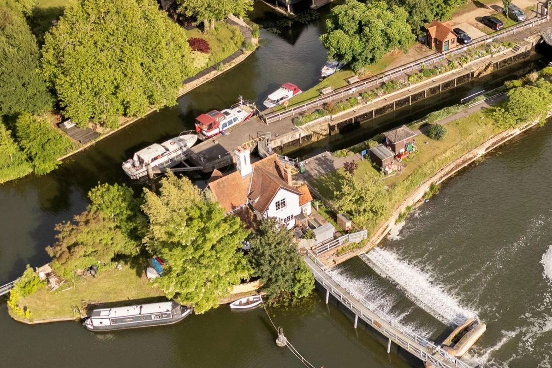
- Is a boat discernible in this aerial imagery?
Yes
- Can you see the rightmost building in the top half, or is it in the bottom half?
top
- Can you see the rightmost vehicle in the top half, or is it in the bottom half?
top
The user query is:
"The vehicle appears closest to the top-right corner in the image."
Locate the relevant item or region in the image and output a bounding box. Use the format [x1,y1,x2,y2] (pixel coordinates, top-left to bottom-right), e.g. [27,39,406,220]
[508,1,528,21]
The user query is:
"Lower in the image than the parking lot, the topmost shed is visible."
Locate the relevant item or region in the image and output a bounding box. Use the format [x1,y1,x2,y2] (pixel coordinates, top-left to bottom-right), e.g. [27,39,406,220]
[380,125,418,155]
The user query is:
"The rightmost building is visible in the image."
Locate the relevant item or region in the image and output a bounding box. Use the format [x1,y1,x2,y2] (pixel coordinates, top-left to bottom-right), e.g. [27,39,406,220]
[422,19,458,57]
